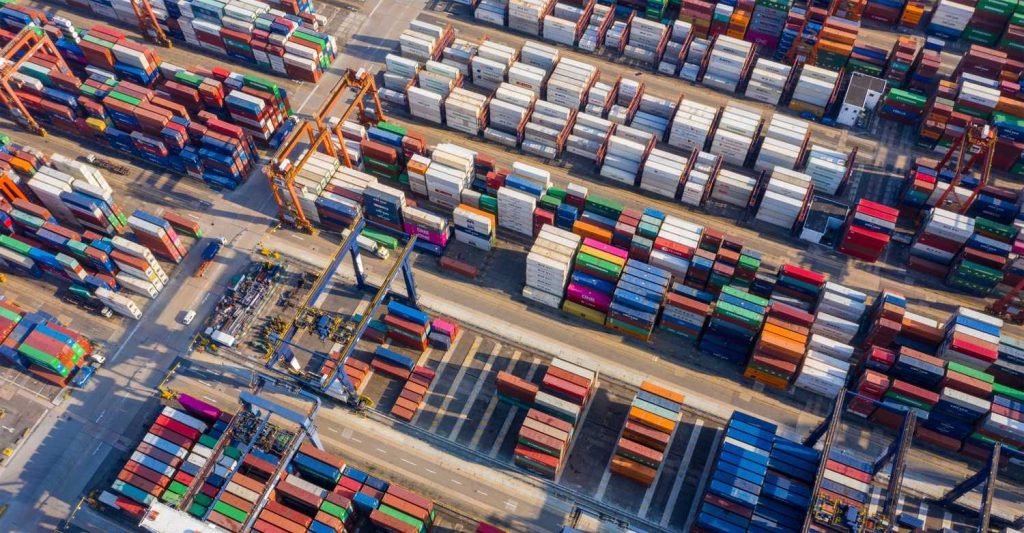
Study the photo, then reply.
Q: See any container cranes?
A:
Yes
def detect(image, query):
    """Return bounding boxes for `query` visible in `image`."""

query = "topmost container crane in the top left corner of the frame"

[124,0,174,45]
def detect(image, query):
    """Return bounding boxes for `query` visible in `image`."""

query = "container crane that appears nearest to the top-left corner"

[0,25,82,135]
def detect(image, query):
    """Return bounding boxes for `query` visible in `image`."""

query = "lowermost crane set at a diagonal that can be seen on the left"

[134,378,329,533]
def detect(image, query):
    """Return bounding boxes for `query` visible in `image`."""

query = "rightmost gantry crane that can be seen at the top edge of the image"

[784,0,838,67]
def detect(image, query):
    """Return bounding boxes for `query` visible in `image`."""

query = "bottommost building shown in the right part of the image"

[799,195,849,245]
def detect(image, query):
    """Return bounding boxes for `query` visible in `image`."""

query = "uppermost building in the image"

[836,72,886,126]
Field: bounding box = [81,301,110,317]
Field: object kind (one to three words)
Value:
vehicle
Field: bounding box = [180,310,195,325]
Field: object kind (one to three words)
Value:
vehicle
